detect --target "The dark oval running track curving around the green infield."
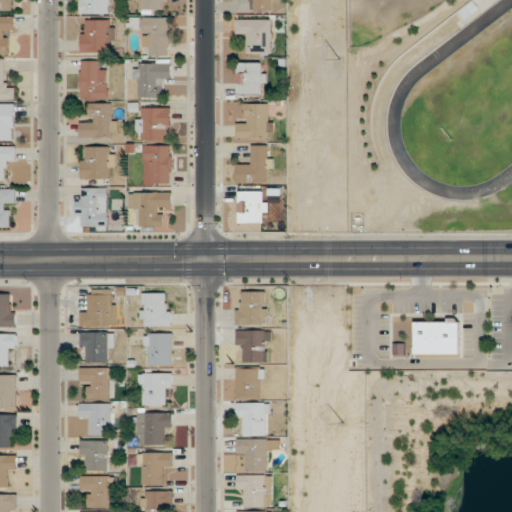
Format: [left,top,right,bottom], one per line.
[385,0,512,200]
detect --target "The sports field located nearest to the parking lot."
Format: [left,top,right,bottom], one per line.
[400,10,512,185]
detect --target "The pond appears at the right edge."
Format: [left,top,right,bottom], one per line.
[458,448,512,512]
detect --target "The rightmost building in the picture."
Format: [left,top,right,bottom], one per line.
[412,316,460,354]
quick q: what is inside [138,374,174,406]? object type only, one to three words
house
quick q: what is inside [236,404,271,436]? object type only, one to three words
house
